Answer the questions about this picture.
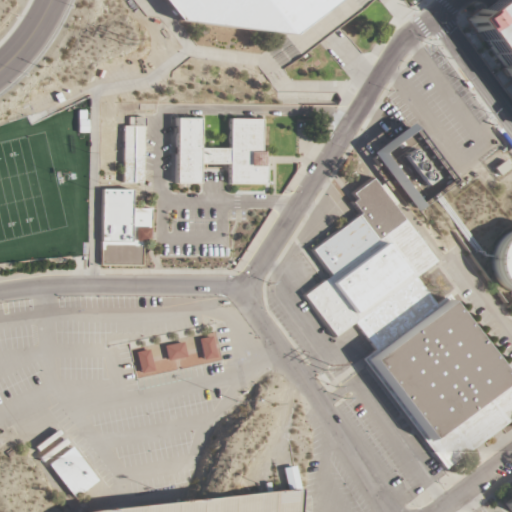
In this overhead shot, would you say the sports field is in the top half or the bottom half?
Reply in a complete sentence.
The sports field is in the top half of the image.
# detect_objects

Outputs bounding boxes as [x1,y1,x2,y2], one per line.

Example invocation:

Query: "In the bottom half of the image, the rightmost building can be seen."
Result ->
[302,179,512,470]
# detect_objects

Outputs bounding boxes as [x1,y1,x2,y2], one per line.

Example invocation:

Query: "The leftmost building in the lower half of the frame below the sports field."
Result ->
[36,430,71,464]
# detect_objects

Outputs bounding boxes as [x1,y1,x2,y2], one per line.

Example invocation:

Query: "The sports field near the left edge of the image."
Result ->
[0,96,91,262]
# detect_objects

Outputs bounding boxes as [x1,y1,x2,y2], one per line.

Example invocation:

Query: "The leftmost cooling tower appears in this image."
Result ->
[404,150,443,186]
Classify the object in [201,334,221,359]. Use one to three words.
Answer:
building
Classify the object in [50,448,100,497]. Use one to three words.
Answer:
building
